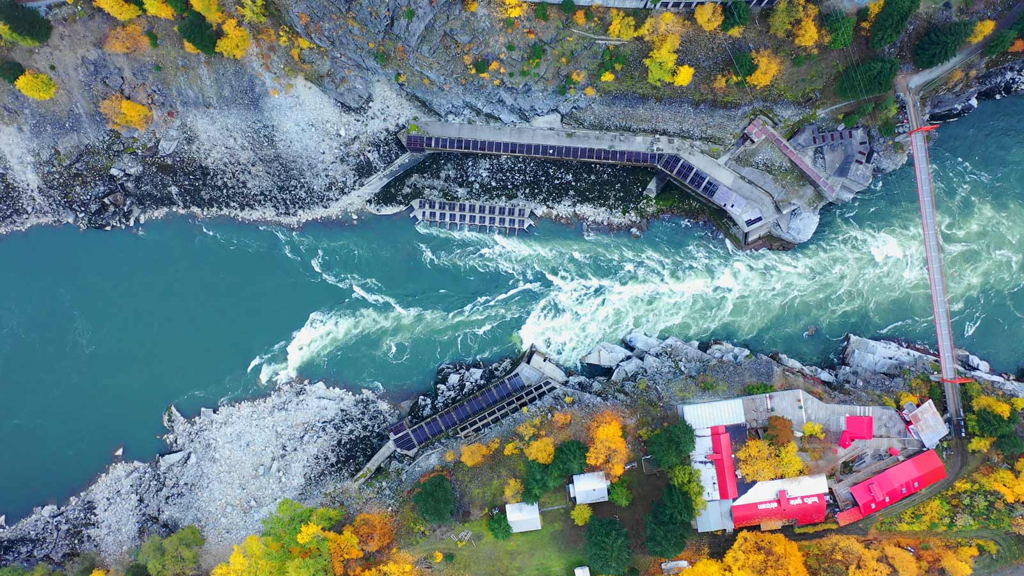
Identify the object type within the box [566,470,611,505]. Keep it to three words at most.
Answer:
shed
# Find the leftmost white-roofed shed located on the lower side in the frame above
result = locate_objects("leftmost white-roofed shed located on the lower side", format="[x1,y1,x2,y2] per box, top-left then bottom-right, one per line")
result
[506,499,541,533]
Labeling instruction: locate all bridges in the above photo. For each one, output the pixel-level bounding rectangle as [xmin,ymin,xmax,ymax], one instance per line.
[889,90,975,419]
